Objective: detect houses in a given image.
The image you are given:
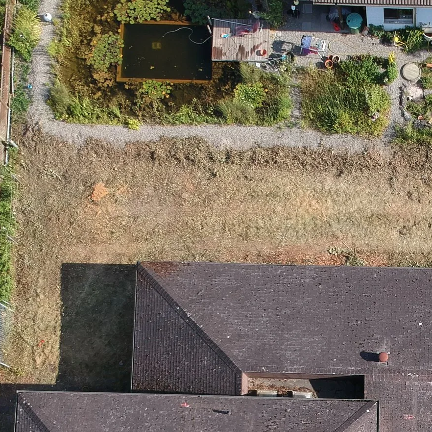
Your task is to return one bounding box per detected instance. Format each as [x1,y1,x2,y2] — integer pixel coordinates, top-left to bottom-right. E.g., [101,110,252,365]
[310,0,432,30]
[111,260,432,432]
